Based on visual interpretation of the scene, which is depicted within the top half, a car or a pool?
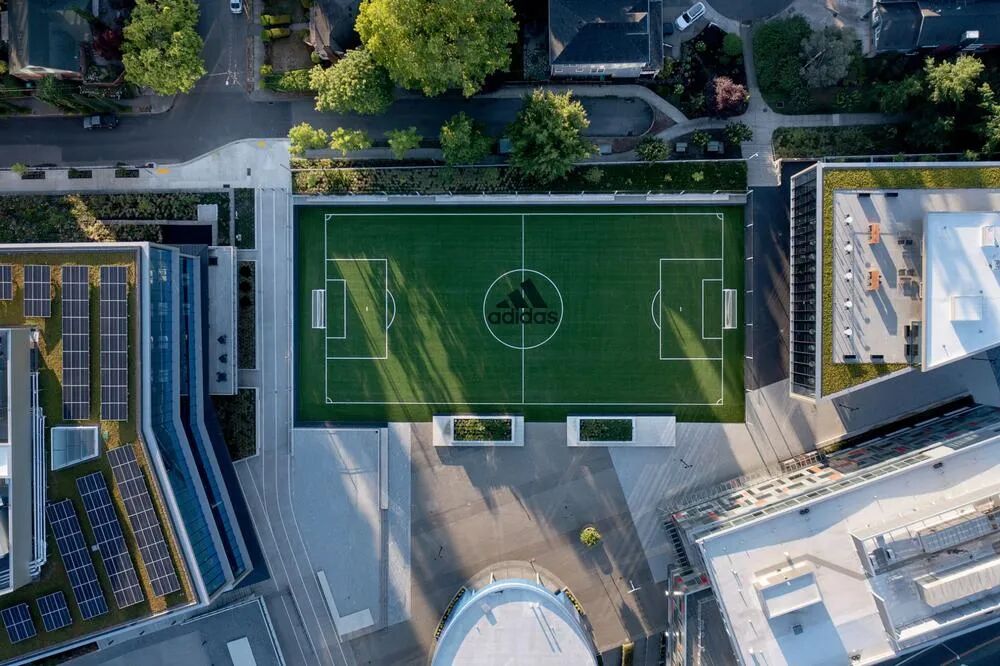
car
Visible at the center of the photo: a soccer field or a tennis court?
soccer field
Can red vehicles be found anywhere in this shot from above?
No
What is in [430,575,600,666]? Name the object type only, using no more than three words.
building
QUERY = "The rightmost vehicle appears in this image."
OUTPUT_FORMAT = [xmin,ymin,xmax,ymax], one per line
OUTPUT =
[674,1,706,33]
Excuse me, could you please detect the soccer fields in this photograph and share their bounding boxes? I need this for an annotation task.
[294,205,746,427]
